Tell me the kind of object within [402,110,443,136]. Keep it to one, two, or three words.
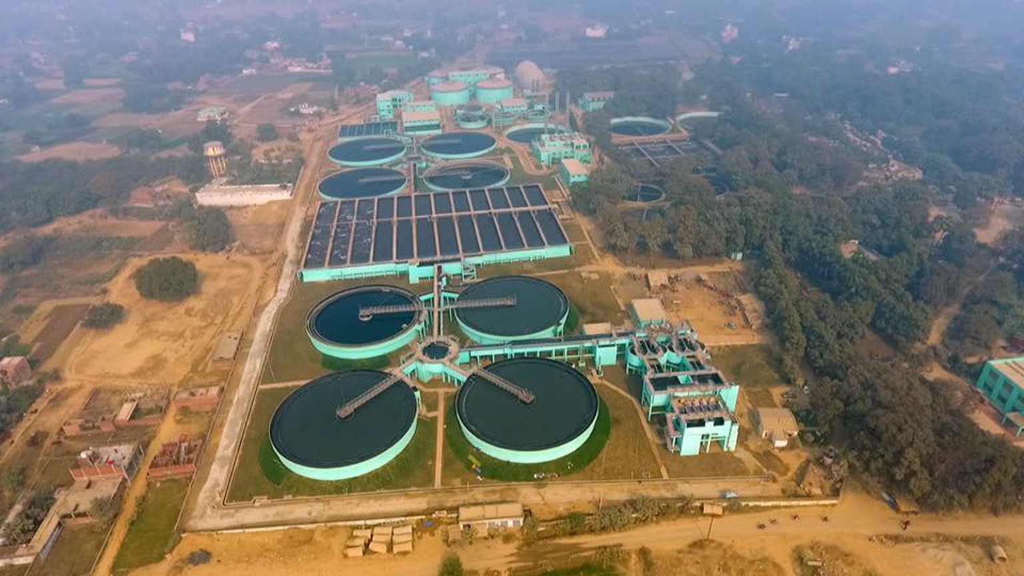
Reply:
building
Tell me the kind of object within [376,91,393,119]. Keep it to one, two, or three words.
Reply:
building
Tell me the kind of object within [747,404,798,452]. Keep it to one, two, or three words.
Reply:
house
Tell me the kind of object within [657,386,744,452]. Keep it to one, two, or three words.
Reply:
house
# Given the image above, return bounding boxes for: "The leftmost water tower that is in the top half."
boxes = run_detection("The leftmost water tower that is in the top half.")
[203,143,231,181]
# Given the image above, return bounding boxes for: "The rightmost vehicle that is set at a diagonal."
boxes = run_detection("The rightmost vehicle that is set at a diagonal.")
[880,490,905,511]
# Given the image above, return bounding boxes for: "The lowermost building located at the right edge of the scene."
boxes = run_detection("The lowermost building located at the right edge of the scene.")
[974,359,1024,430]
